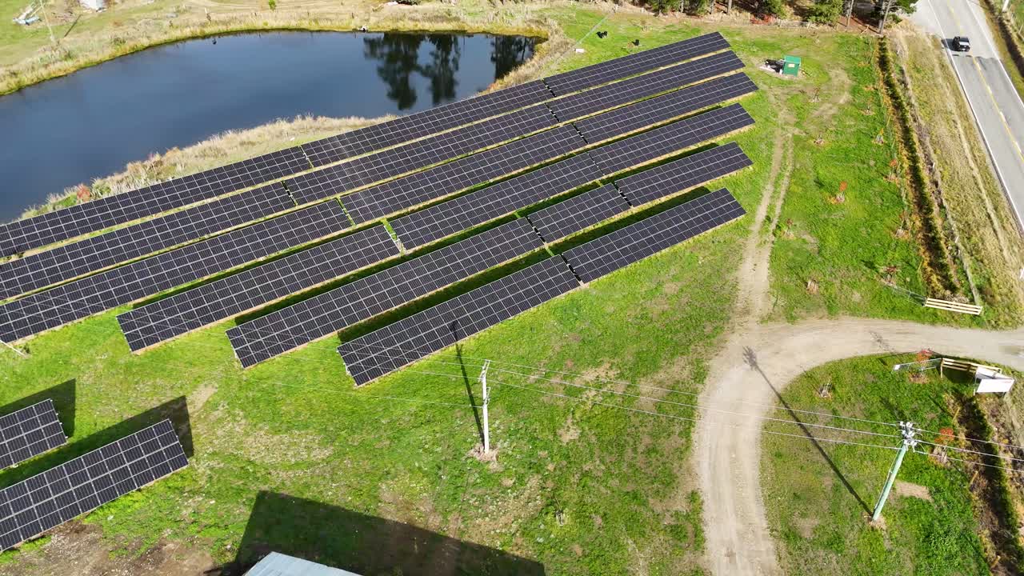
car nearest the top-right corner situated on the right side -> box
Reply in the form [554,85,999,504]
[954,33,972,49]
